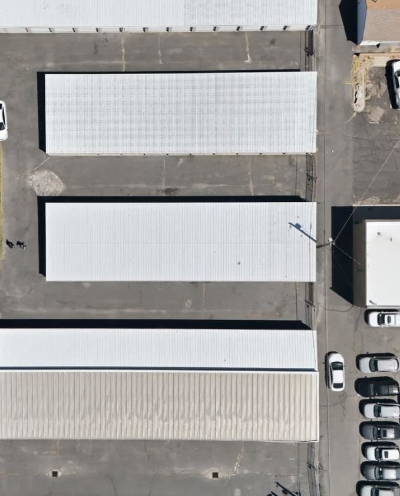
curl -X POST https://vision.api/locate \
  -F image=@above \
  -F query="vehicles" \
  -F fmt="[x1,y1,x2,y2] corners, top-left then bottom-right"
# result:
[359,483,400,496]
[368,311,400,328]
[361,423,400,442]
[0,98,8,141]
[363,402,400,420]
[358,378,399,398]
[392,62,400,111]
[360,461,400,481]
[364,444,400,463]
[359,356,399,375]
[327,352,346,391]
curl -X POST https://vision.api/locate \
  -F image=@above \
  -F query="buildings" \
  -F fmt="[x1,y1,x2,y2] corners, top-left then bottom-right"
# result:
[358,0,400,44]
[0,328,318,441]
[45,202,316,281]
[45,72,317,158]
[0,0,317,35]
[353,222,400,308]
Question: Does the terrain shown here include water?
No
